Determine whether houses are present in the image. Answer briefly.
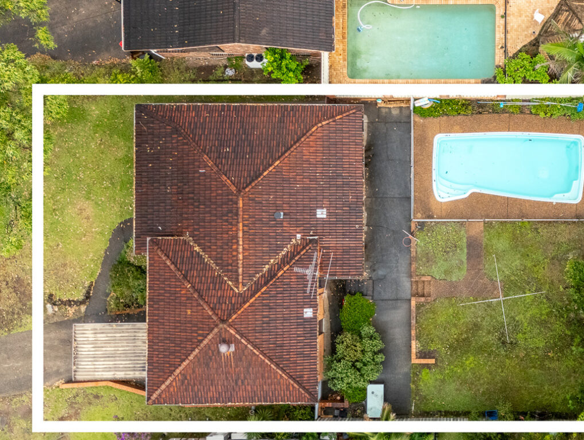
Yes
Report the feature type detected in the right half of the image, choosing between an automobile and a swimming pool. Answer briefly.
swimming pool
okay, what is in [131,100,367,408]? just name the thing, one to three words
house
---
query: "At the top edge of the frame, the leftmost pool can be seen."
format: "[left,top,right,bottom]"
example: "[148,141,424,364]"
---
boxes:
[342,0,501,84]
